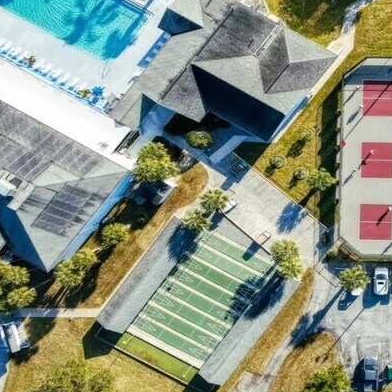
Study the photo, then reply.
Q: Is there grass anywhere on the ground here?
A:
Yes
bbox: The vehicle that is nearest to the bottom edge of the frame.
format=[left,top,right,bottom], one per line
[361,354,379,392]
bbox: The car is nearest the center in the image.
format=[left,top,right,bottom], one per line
[146,183,171,208]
